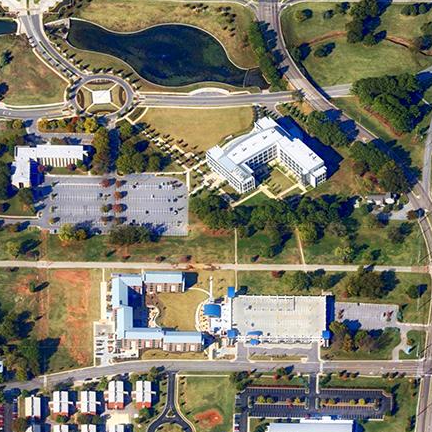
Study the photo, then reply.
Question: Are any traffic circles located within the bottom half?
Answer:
No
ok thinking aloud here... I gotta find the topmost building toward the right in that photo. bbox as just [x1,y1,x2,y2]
[205,117,327,194]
